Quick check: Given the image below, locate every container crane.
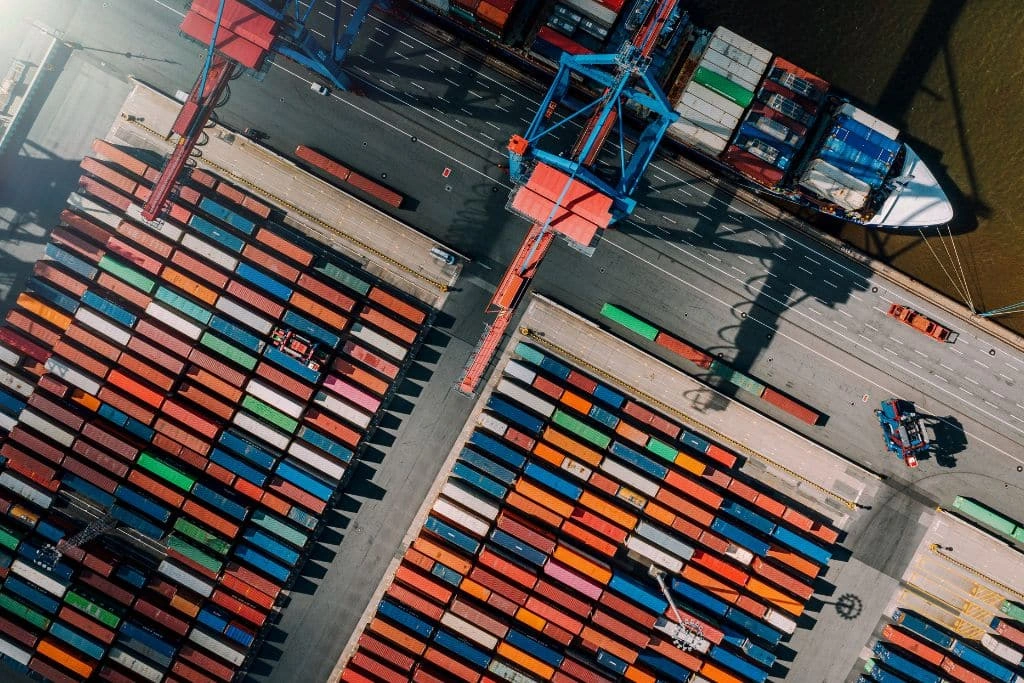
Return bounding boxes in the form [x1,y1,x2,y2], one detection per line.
[453,0,695,398]
[135,0,417,230]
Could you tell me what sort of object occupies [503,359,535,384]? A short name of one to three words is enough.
shipping container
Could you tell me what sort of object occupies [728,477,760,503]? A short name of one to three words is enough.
shipping container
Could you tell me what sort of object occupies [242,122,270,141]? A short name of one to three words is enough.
work vehicle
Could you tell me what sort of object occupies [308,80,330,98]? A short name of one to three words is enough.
vehicle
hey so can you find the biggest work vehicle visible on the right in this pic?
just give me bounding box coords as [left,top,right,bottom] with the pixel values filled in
[877,398,938,466]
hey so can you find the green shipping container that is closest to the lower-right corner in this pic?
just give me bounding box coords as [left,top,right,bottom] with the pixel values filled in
[996,597,1024,623]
